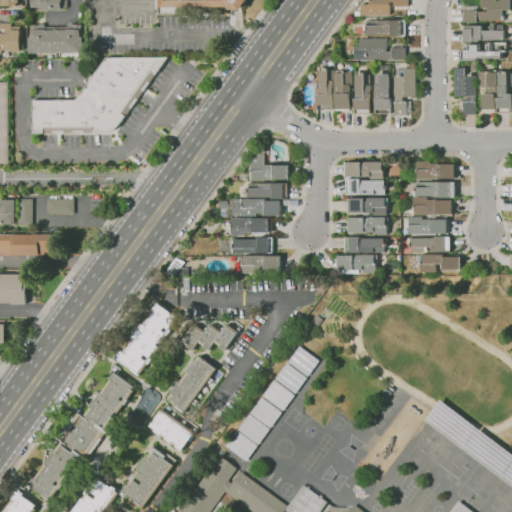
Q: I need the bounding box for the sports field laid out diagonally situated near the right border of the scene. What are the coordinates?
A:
[364,303,512,426]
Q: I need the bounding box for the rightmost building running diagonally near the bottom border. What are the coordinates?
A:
[426,402,512,486]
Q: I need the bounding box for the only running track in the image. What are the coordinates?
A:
[354,294,512,433]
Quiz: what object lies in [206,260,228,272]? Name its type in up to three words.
swimming pool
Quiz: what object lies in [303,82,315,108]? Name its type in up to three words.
swimming pool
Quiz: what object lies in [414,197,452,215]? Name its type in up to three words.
house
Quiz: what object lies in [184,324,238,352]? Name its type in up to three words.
building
